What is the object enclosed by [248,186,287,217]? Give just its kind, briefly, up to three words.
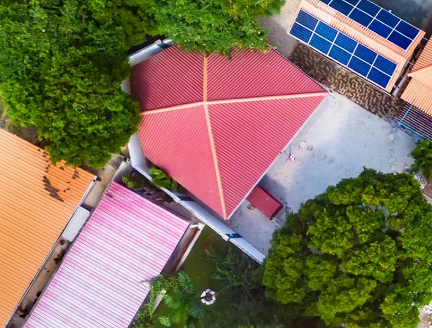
shed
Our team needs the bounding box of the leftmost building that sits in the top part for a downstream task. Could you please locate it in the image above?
[133,29,331,221]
